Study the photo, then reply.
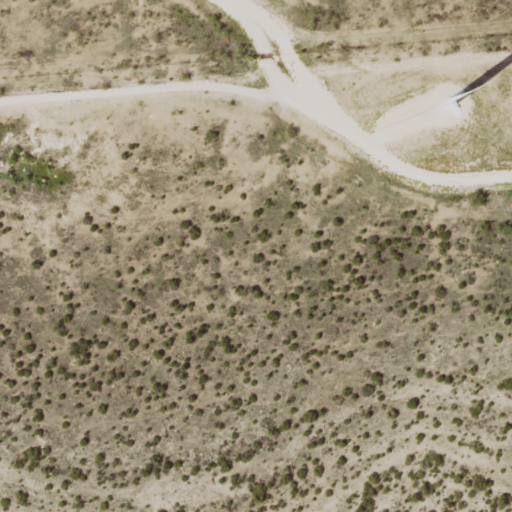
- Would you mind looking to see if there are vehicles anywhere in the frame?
No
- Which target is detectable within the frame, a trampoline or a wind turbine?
wind turbine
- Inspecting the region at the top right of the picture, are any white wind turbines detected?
Yes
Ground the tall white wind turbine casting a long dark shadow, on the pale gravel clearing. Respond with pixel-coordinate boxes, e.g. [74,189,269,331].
[379,76,500,126]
